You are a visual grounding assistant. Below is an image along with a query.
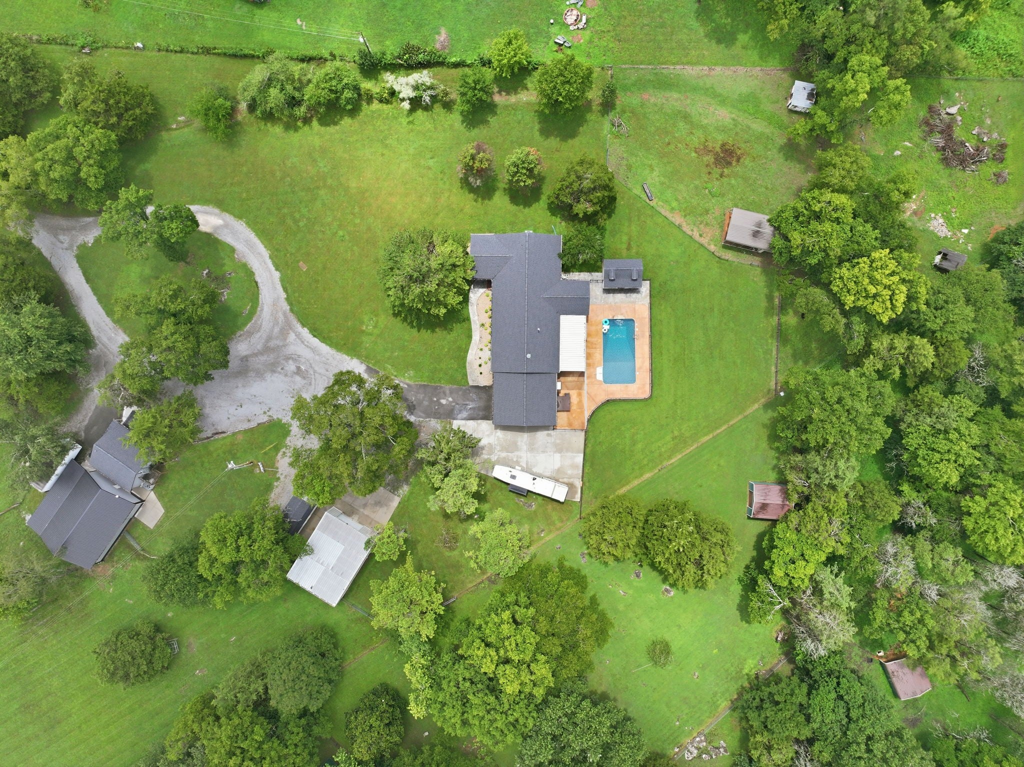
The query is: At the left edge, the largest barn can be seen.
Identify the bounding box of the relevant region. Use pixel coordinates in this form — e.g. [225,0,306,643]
[27,459,143,571]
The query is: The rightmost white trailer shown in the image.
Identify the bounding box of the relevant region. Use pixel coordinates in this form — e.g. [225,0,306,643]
[492,463,568,502]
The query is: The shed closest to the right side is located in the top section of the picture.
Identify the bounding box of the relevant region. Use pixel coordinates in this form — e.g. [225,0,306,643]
[930,248,967,274]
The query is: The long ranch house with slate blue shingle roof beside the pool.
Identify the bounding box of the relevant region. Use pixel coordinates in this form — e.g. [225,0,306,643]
[471,230,590,426]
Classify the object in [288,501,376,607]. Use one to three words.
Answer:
building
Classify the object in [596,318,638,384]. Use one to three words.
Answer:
swimming pool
